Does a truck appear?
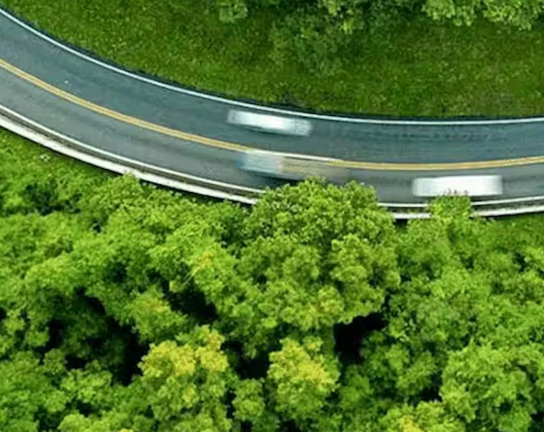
Yes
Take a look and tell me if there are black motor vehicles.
No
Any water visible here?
No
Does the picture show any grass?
Yes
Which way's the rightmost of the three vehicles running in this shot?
horizontally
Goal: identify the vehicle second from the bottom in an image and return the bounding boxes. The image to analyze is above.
[240,146,355,186]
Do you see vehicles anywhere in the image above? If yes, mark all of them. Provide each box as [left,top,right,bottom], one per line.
[416,176,500,201]
[237,109,304,137]
[240,146,355,186]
